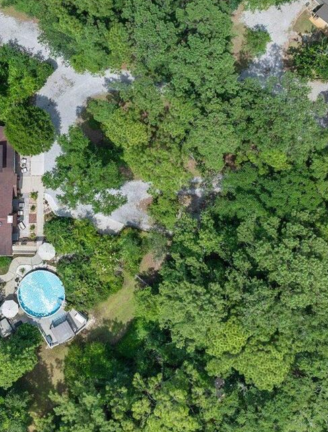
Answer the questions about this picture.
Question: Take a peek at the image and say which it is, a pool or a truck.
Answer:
pool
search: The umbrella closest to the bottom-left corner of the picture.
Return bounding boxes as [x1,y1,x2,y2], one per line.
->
[1,300,18,317]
